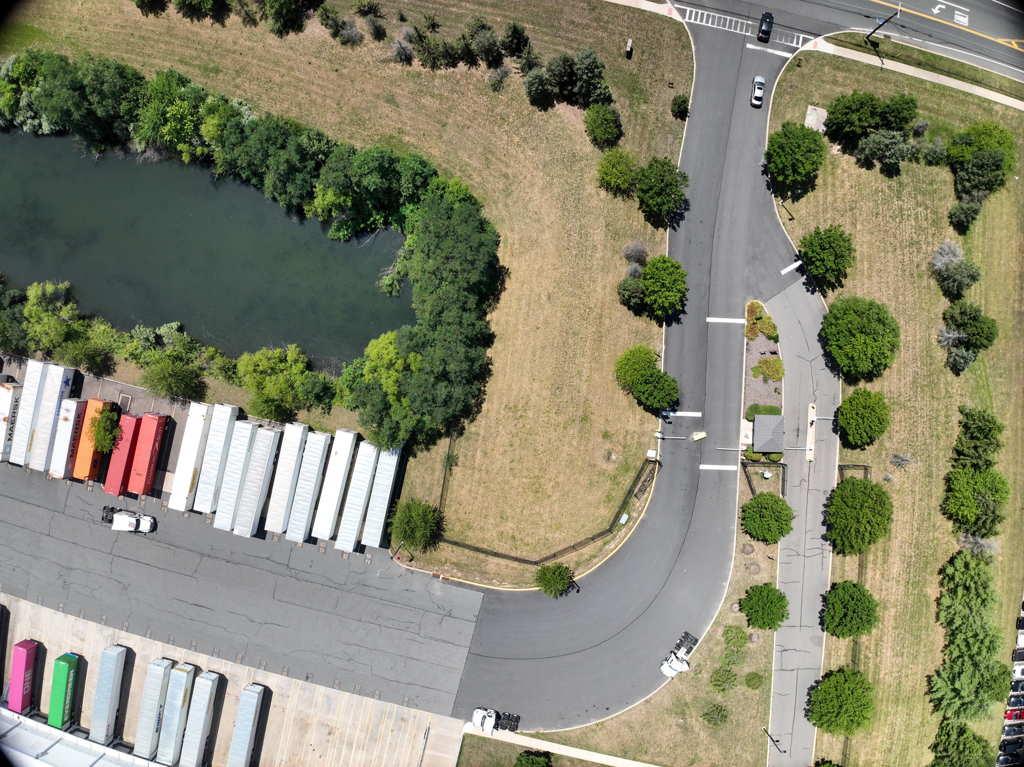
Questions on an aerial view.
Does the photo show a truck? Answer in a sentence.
Yes, the image includes a truck.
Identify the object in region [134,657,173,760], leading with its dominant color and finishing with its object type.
white trailer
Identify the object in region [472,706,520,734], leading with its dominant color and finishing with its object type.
white truck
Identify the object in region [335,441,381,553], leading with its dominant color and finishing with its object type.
white trailer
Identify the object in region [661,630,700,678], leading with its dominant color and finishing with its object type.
white truck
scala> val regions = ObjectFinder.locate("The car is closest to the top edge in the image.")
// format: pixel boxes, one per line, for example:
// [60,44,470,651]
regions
[756,12,775,45]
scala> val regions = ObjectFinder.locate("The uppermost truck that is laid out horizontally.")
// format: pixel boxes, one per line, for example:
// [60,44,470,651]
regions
[101,504,158,533]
